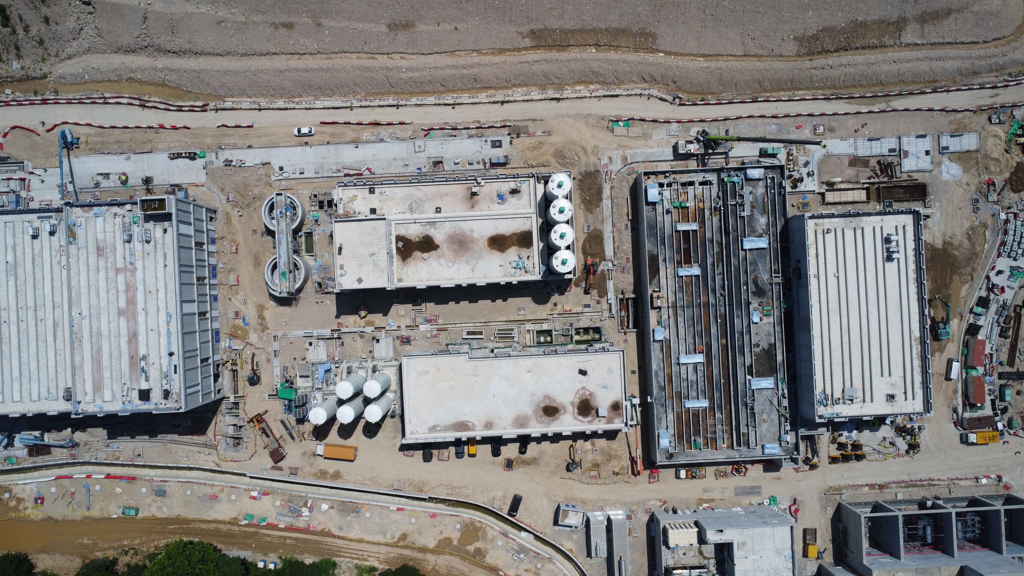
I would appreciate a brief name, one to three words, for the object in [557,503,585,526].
shed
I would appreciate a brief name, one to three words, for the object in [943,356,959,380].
vehicle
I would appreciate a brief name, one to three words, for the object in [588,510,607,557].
building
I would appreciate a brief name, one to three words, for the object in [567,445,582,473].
work vehicle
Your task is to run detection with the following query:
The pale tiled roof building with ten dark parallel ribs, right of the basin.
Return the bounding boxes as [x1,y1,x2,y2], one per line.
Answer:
[788,208,934,422]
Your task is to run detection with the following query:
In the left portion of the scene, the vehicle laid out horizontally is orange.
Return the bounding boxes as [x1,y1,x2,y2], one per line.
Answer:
[314,443,361,461]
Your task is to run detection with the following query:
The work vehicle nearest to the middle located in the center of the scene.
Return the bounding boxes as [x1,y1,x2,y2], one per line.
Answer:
[586,255,598,291]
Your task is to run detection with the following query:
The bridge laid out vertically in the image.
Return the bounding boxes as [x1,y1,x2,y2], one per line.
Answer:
[274,192,295,292]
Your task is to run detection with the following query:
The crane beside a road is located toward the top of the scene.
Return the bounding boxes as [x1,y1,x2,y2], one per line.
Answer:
[676,126,828,166]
